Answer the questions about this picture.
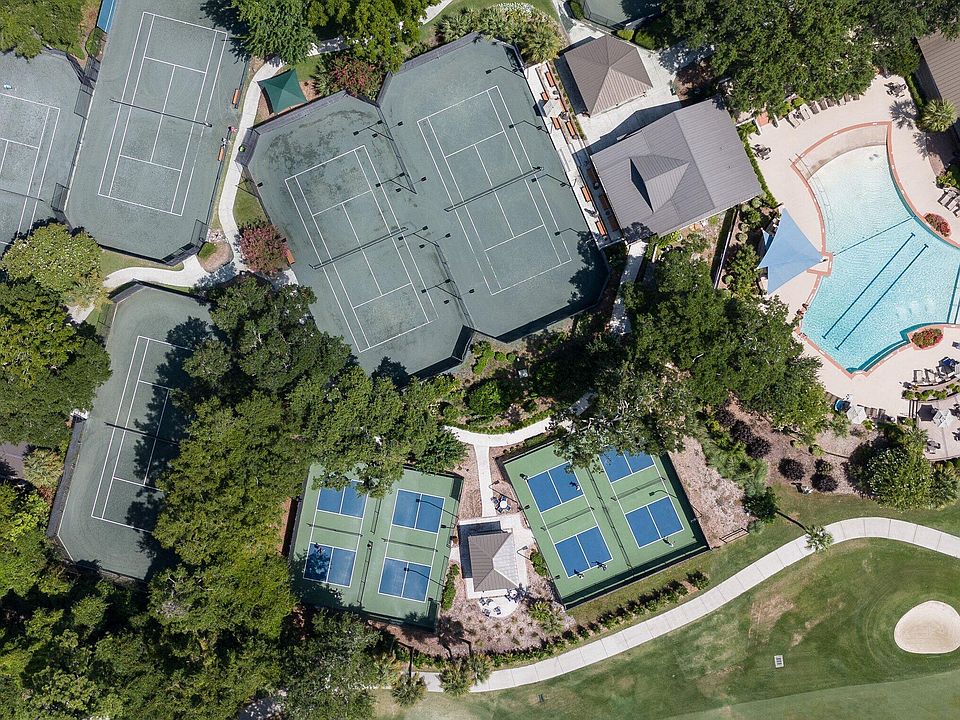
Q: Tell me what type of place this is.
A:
sports ground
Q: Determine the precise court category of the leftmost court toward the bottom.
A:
tennis court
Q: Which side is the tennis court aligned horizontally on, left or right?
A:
right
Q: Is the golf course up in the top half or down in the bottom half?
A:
bottom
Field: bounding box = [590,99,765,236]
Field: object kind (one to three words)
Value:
building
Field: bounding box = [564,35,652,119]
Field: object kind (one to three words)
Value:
building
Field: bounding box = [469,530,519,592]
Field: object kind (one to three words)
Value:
shed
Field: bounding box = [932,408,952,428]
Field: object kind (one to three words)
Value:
umbrella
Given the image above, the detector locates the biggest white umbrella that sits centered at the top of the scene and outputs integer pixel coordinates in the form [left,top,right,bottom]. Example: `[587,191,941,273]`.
[539,97,562,120]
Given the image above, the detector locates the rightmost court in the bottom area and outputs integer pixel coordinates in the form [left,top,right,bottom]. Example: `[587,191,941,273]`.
[579,408,709,579]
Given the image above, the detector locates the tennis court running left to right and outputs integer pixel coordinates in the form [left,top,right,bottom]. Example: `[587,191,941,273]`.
[585,0,668,28]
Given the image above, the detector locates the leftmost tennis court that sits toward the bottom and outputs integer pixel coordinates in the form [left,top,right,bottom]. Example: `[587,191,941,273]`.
[60,286,240,580]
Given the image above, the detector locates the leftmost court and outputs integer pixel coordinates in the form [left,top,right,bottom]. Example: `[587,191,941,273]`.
[0,50,83,285]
